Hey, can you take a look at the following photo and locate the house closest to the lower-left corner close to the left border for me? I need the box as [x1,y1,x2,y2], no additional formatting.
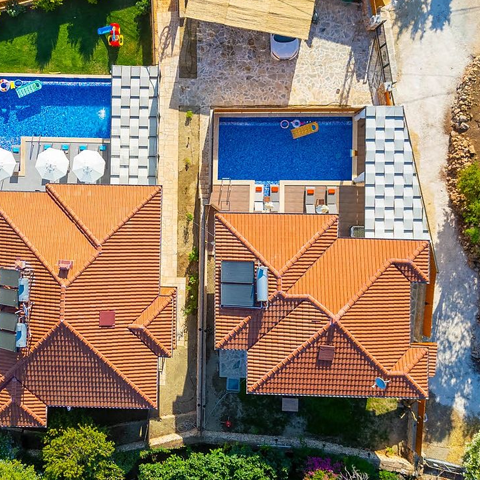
[0,182,177,429]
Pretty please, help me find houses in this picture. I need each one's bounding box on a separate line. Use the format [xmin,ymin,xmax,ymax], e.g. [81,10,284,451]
[213,213,439,400]
[0,182,177,429]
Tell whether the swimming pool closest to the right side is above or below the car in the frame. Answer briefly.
below it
